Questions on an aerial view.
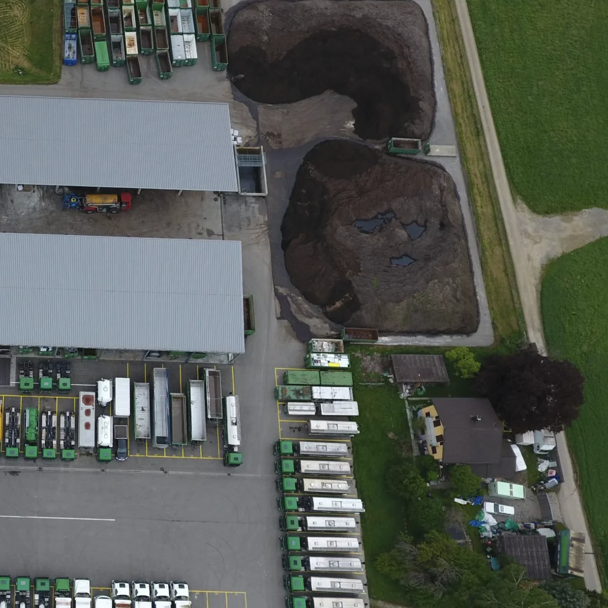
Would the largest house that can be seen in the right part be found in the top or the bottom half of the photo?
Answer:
bottom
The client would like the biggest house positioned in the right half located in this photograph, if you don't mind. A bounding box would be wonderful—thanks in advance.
[417,398,516,479]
